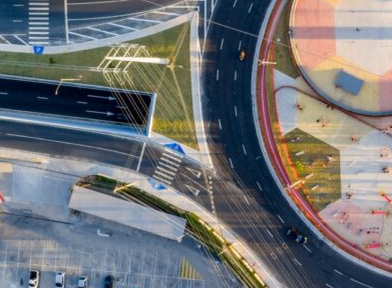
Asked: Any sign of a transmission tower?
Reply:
Yes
